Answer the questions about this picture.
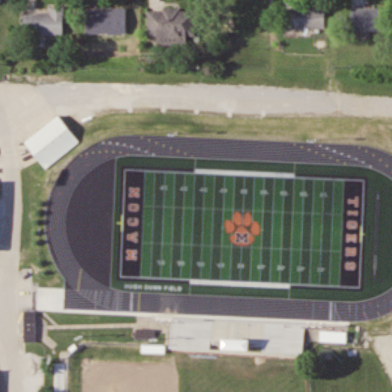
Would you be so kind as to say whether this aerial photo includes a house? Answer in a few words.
Yes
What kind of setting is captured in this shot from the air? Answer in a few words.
sports ground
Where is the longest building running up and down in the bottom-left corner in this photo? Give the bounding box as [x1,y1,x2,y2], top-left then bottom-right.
[24,312,36,342]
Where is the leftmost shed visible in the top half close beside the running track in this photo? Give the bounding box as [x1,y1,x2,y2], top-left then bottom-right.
[26,117,78,168]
